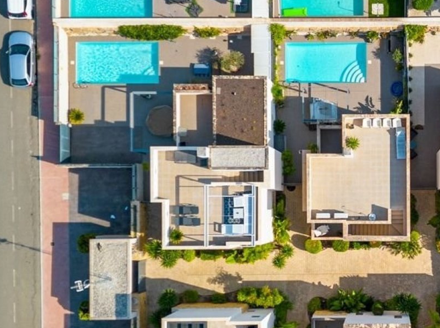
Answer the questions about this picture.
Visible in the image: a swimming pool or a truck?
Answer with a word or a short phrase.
swimming pool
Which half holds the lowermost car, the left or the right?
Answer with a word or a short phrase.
left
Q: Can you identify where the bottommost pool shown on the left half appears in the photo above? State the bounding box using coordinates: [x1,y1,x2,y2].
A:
[73,39,160,89]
